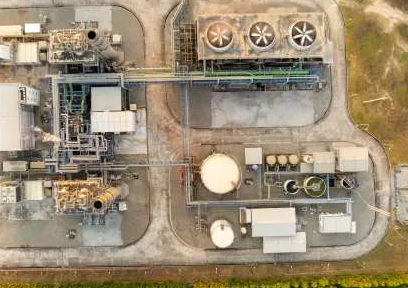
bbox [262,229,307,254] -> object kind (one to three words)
building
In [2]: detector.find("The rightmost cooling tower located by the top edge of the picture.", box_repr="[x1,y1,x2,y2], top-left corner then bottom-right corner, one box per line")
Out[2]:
[196,11,330,68]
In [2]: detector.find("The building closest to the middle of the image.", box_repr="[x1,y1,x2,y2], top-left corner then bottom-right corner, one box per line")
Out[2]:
[243,145,263,166]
